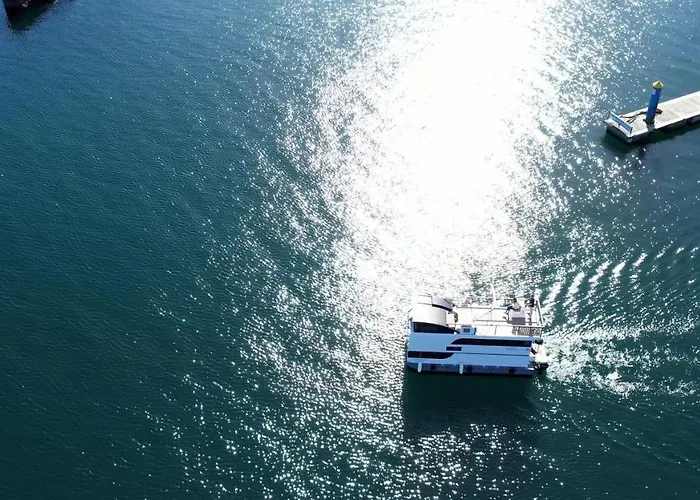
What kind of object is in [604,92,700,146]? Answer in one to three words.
pier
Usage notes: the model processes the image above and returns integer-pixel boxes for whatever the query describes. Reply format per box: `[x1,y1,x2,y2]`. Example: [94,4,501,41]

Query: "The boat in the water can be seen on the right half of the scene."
[407,278,551,376]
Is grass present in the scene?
No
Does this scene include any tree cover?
No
